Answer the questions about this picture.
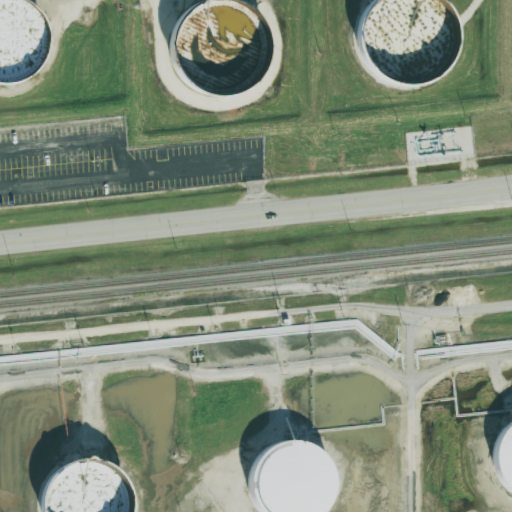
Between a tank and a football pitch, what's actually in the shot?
tank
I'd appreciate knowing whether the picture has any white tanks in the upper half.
Yes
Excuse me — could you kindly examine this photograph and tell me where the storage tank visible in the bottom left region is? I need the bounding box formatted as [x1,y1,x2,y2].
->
[38,456,138,512]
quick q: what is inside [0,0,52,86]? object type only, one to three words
storage tank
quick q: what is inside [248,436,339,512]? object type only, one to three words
storage tank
